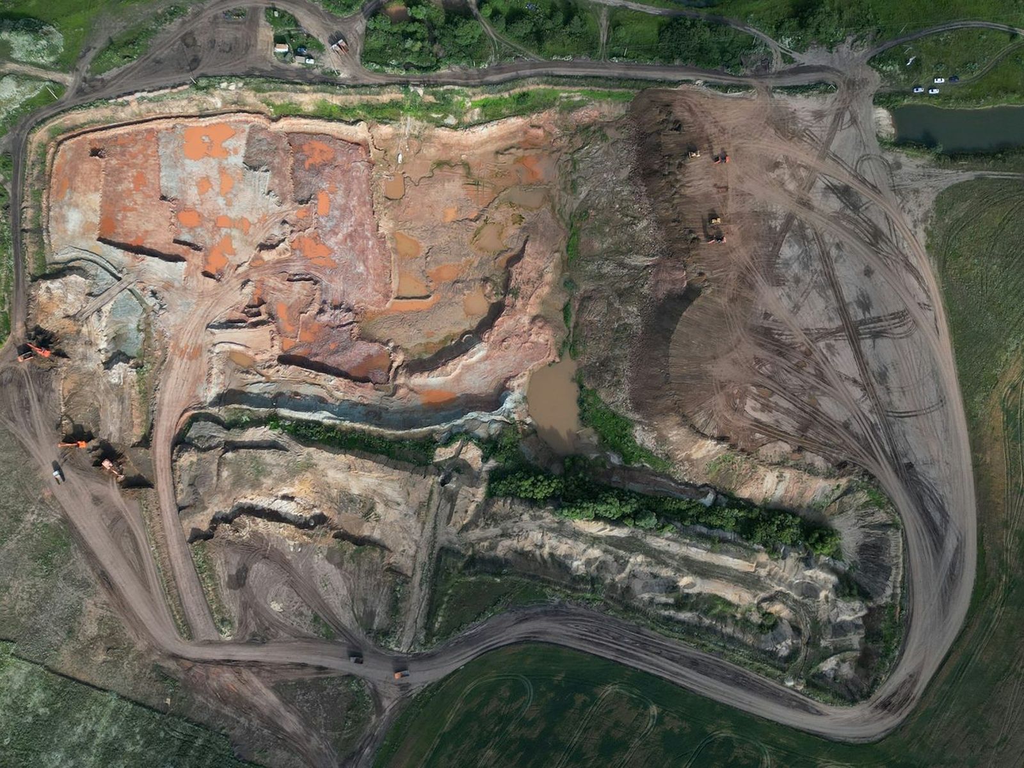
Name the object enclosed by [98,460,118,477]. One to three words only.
work vehicle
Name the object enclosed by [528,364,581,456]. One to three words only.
pond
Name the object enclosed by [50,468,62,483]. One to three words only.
vehicle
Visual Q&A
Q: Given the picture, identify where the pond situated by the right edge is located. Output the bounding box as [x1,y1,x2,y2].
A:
[893,103,1024,151]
